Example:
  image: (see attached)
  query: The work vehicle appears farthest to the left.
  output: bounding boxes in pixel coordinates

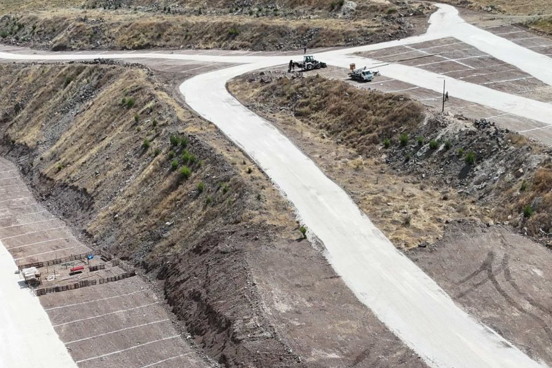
[294,53,335,72]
